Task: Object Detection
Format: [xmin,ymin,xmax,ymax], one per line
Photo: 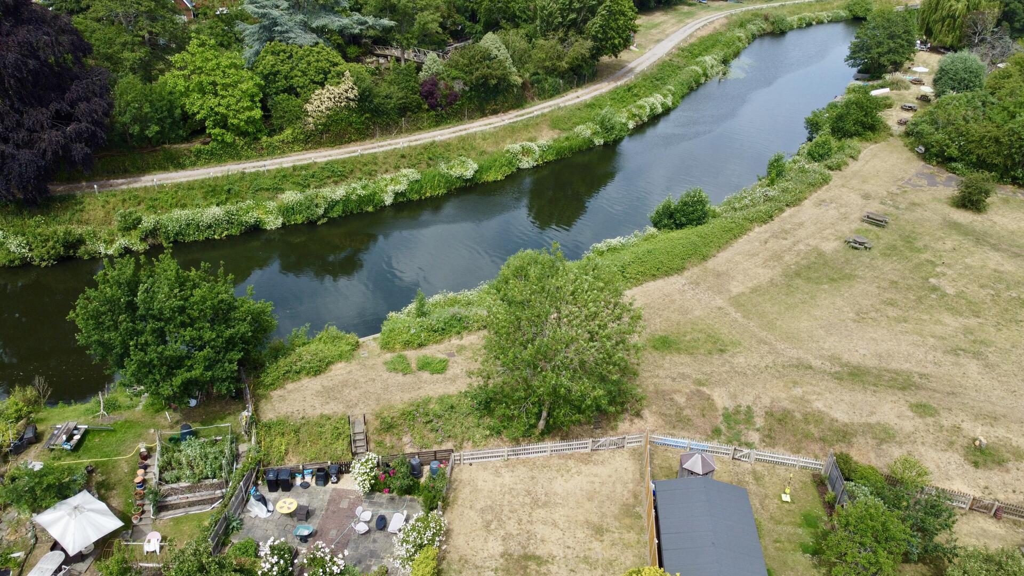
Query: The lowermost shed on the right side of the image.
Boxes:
[652,474,771,576]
